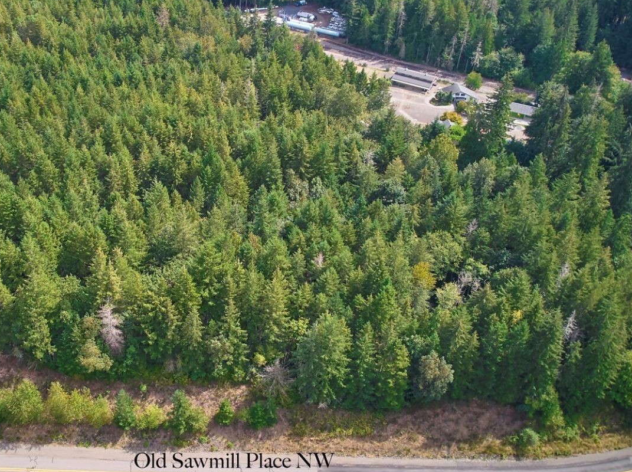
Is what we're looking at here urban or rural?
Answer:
rural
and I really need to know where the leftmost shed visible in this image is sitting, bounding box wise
[387,63,442,99]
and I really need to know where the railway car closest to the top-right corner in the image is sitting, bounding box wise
[315,25,344,41]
